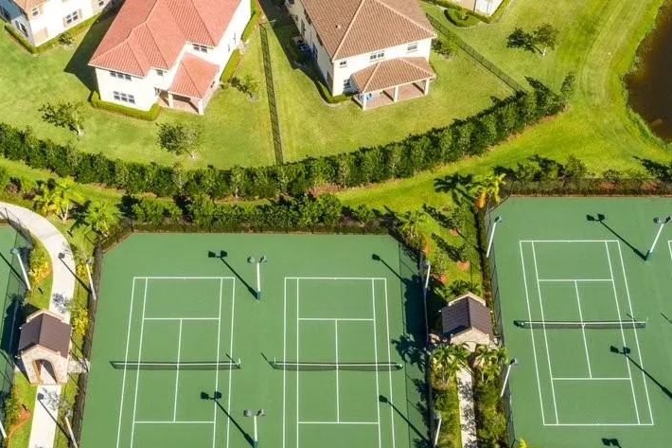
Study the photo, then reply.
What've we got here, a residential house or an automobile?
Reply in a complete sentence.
Of the two, only a residential house appears.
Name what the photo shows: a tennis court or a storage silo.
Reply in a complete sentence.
Of the two, only a tennis court appears.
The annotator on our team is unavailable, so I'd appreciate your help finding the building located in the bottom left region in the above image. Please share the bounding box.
[15,307,79,382]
